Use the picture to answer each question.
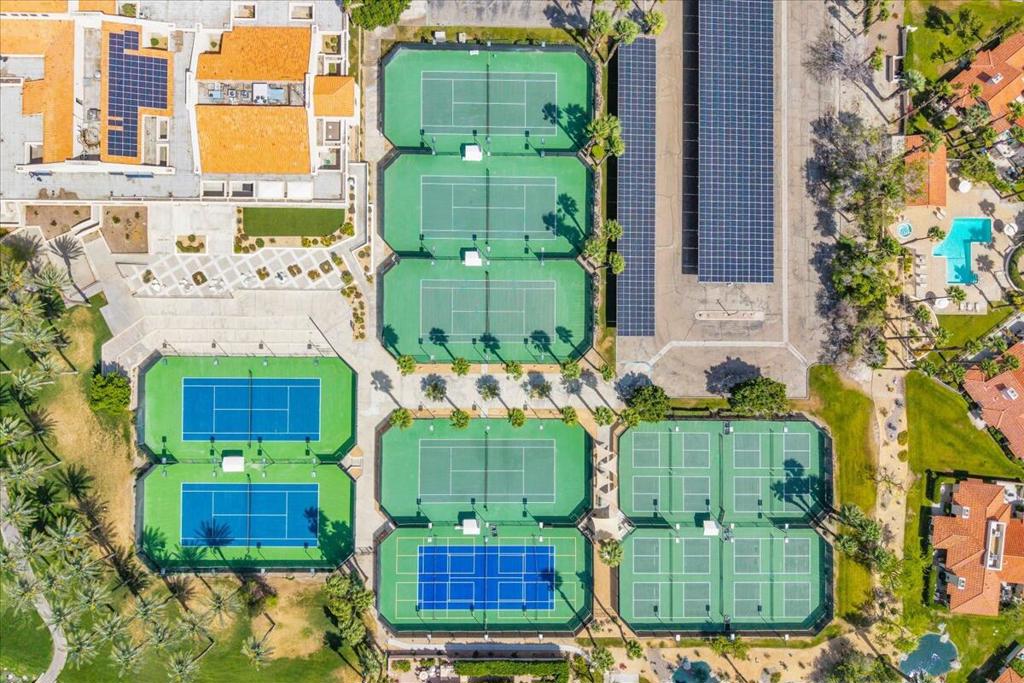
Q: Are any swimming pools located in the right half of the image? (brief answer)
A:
Yes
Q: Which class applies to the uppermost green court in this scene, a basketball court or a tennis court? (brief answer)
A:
tennis court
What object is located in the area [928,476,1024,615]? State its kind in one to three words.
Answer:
house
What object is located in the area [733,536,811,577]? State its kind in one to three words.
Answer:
sports court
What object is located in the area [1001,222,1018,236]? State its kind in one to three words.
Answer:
umbrella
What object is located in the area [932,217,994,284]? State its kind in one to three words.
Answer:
swimming pool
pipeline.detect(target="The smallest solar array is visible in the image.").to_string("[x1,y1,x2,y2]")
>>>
[108,31,167,156]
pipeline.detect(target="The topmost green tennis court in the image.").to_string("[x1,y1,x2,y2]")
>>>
[385,51,591,154]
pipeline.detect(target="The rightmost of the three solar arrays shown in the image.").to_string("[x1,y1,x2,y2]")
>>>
[698,0,774,283]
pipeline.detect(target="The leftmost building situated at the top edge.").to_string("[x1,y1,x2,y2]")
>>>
[0,0,361,203]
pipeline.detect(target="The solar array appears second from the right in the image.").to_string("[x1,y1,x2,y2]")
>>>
[617,38,655,336]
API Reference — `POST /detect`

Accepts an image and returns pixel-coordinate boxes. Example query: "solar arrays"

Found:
[108,31,167,156]
[698,0,774,283]
[617,38,655,336]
